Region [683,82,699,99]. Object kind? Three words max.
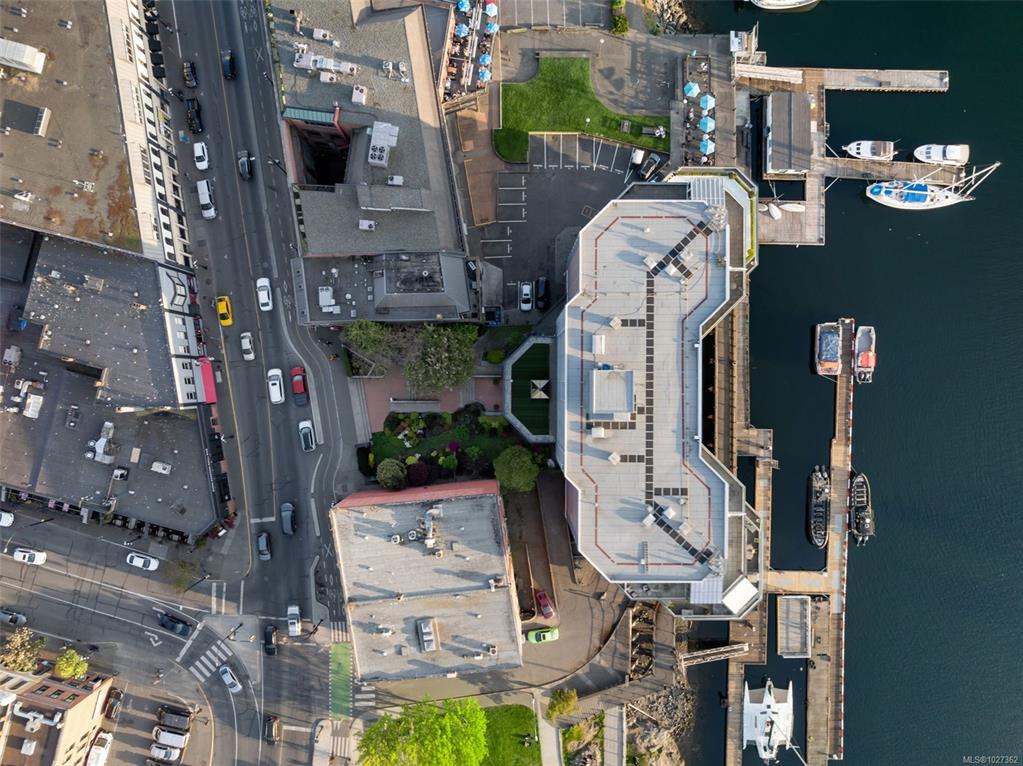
umbrella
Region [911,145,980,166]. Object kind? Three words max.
boat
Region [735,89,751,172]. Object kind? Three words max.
pier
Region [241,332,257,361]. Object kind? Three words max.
car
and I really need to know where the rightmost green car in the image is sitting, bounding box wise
[525,625,559,642]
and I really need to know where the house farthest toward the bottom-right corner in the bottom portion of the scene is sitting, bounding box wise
[775,594,810,659]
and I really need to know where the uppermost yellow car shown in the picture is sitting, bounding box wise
[217,295,235,328]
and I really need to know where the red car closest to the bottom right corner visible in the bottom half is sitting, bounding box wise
[535,588,554,619]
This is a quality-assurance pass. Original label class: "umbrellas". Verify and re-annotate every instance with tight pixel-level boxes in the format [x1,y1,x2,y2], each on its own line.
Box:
[699,118,713,133]
[487,22,499,39]
[480,70,491,85]
[683,82,699,99]
[486,5,498,21]
[480,54,491,69]
[699,95,713,111]
[699,140,713,155]
[458,0,469,16]
[456,25,469,42]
